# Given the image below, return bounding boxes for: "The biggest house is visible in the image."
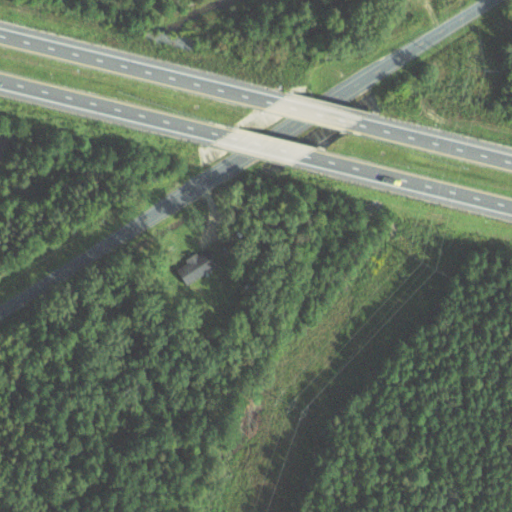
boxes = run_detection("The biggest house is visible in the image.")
[178,254,214,286]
